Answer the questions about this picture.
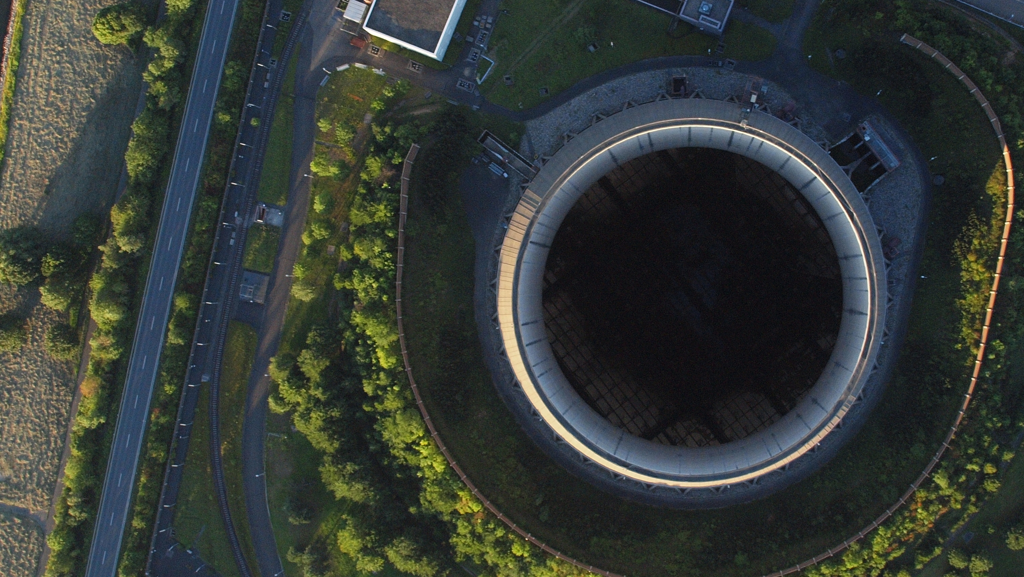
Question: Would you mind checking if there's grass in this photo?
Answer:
Yes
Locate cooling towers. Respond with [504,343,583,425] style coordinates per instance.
[486,86,899,499]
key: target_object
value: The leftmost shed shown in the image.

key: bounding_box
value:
[239,271,272,303]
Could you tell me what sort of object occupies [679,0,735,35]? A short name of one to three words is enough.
building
